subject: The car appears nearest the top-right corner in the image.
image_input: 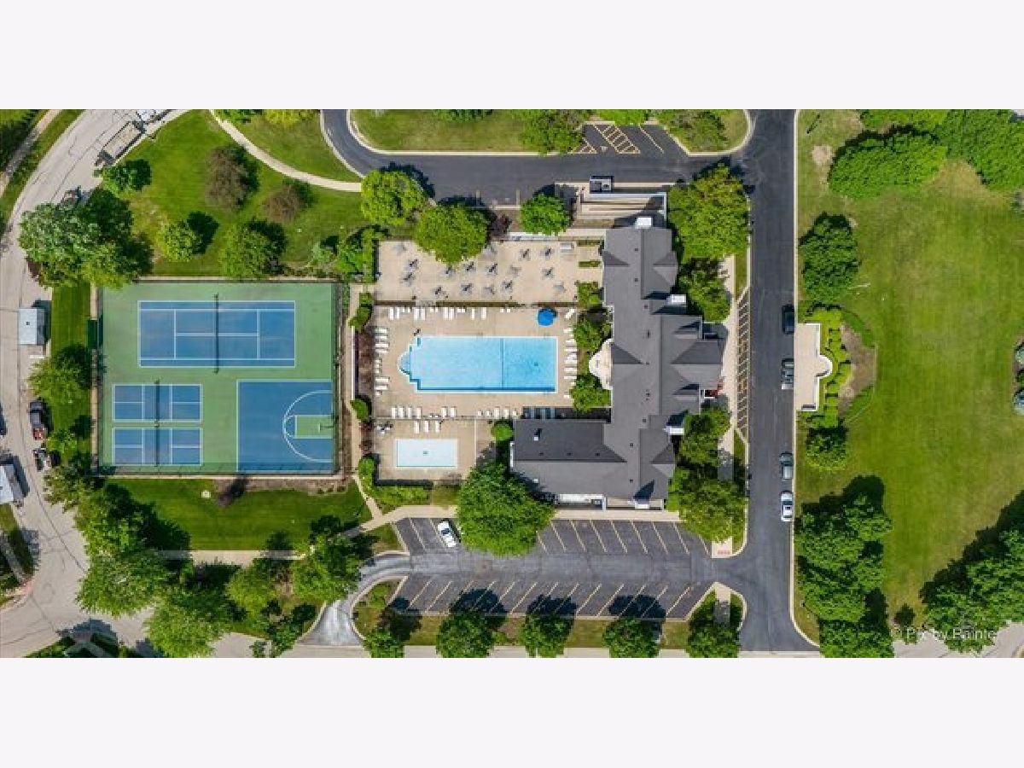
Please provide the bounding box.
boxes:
[780,306,796,334]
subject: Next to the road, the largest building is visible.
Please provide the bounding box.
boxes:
[513,217,725,509]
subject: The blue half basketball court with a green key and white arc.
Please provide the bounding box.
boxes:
[237,381,332,472]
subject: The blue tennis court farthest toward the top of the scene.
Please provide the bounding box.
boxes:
[138,293,296,373]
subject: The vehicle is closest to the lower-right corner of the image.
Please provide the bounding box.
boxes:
[779,491,794,522]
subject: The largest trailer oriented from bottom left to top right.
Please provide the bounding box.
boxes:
[100,118,144,163]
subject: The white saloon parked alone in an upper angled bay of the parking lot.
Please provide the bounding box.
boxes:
[437,519,459,550]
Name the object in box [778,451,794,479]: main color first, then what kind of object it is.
gray car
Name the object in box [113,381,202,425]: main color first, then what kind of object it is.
blue sports court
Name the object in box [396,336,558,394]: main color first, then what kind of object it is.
blue swimming pool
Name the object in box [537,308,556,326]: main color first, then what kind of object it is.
blue umbrella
